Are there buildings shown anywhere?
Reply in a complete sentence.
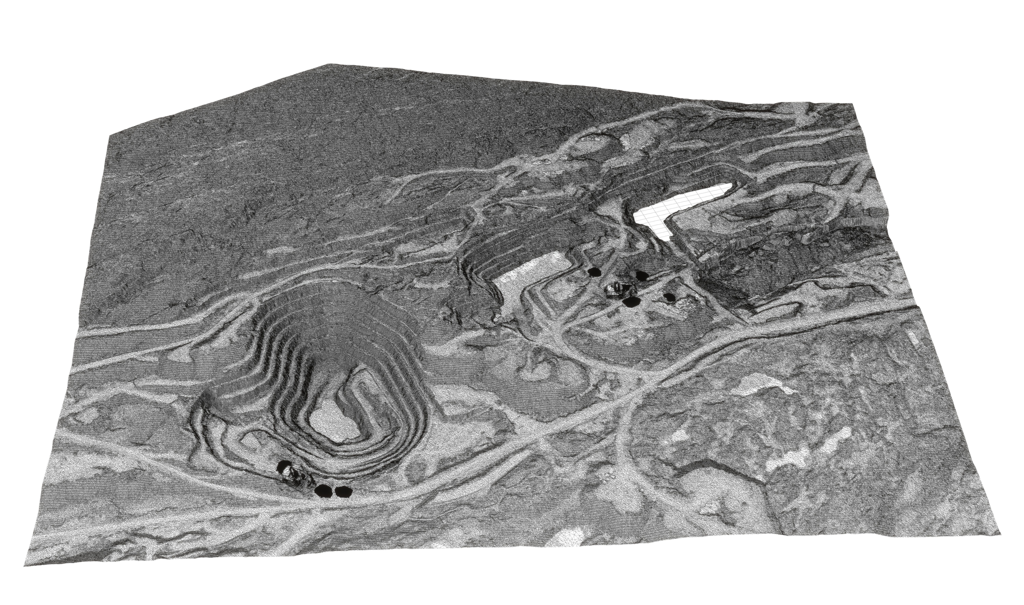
No, the frame has no building in it.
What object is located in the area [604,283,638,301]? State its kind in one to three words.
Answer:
work vehicle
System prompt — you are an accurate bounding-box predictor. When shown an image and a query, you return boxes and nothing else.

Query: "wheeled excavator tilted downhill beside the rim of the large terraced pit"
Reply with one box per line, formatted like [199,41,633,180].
[278,465,314,490]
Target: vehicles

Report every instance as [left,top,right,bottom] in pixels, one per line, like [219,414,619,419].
[278,465,314,490]
[604,283,638,301]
